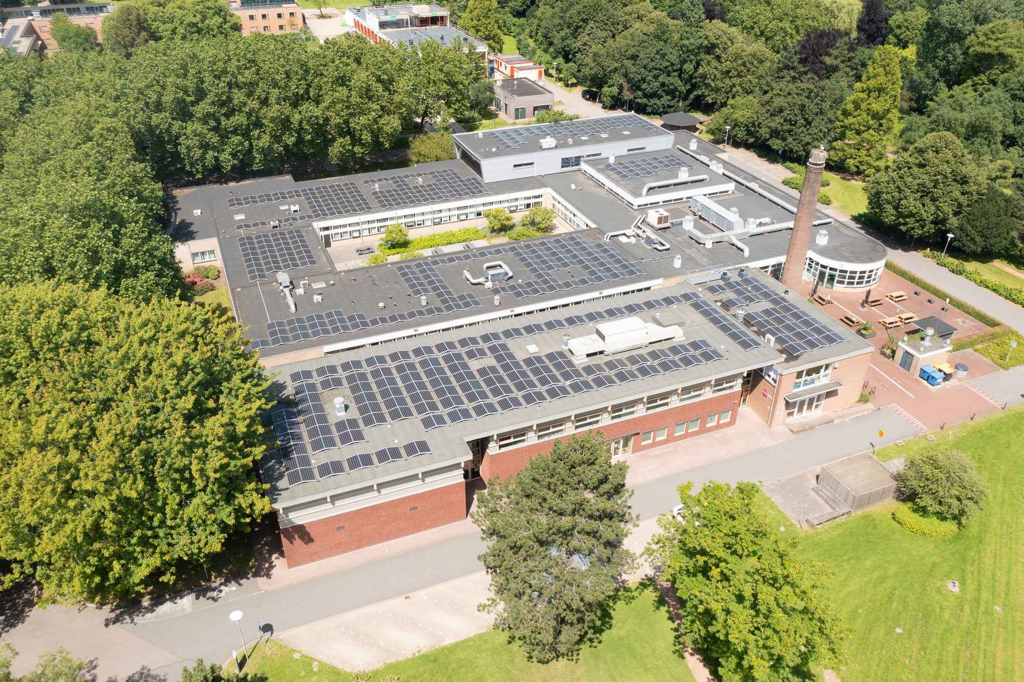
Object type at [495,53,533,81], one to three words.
building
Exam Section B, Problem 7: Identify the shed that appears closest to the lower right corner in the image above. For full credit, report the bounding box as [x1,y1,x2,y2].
[819,452,900,515]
